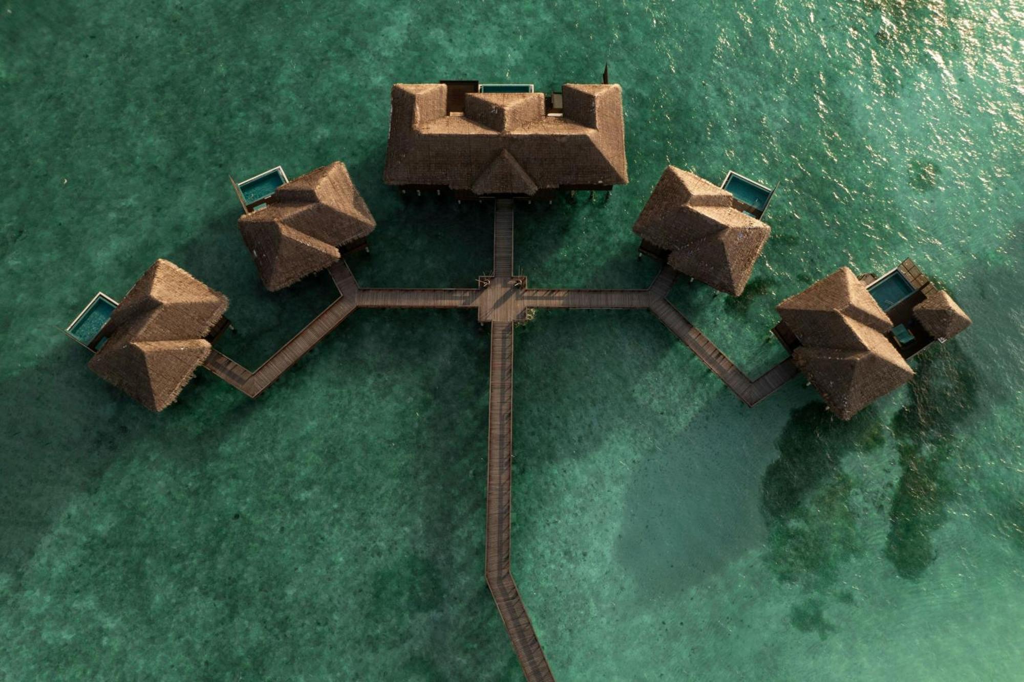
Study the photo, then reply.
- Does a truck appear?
No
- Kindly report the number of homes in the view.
5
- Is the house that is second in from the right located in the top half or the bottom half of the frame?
top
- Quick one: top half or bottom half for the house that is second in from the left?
top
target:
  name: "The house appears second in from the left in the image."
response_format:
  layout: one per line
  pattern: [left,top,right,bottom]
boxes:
[228,161,375,291]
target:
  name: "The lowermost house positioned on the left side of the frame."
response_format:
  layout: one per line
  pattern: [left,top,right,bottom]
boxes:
[52,258,237,414]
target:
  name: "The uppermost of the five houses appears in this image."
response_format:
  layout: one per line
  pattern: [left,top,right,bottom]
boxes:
[383,61,631,209]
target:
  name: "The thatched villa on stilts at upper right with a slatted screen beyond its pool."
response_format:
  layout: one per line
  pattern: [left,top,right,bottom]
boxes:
[631,166,781,298]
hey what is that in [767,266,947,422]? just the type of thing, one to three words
house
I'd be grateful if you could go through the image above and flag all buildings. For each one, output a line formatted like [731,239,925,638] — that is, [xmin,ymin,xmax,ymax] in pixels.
[631,166,781,298]
[52,258,237,414]
[383,61,631,209]
[767,266,947,422]
[228,161,375,291]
